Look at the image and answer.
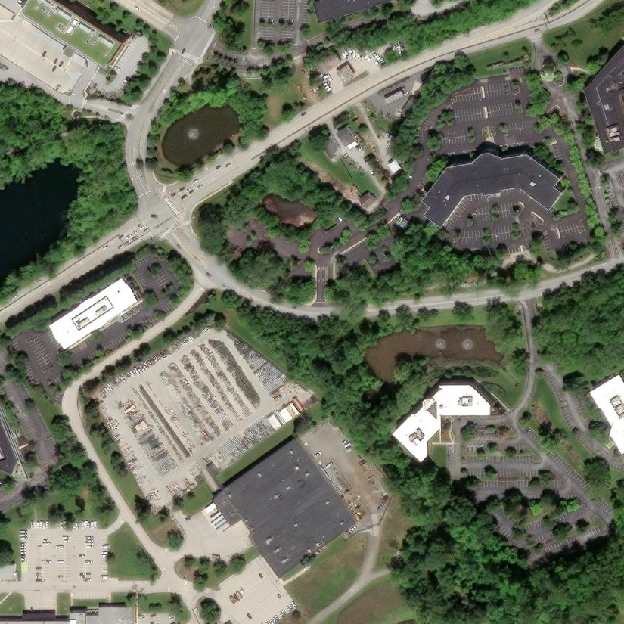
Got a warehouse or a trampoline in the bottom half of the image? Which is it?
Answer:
warehouse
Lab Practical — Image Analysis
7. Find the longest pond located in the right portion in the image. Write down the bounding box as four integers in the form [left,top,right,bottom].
[363,326,500,383]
